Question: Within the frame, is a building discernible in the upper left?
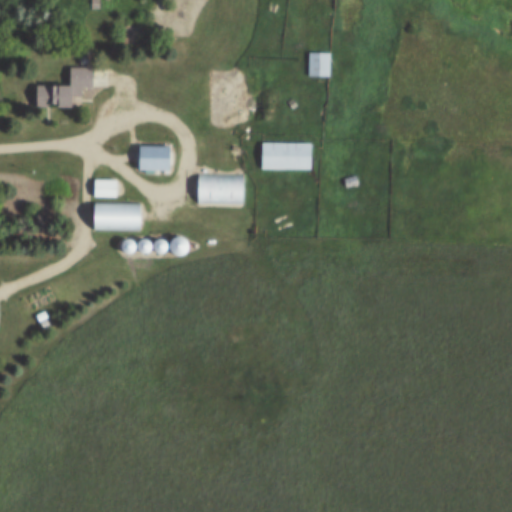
Yes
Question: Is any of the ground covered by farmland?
Yes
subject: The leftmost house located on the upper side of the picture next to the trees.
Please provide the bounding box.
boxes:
[36,67,93,108]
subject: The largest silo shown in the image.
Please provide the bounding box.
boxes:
[170,236,190,256]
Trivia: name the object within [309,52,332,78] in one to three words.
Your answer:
shed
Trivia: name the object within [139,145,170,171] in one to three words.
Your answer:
shed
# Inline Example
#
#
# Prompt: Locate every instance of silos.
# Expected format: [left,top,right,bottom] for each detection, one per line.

[154,238,170,254]
[170,236,190,256]
[138,238,154,254]
[122,238,137,254]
